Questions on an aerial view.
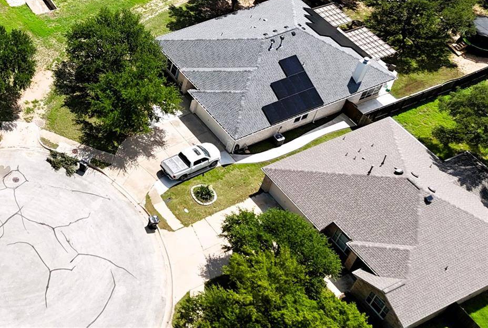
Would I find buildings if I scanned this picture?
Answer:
Yes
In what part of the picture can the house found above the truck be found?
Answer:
top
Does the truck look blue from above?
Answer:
No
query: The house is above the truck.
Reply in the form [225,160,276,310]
[152,0,399,156]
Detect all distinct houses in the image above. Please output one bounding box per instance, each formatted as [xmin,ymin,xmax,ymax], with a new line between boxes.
[152,0,399,156]
[258,116,488,328]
